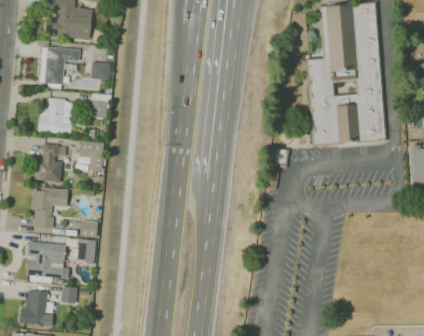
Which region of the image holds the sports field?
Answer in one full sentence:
The sports field is located in the bottom right region of the scene.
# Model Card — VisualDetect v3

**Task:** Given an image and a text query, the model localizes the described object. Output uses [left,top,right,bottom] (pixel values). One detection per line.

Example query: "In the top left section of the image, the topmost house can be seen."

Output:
[52,0,92,40]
